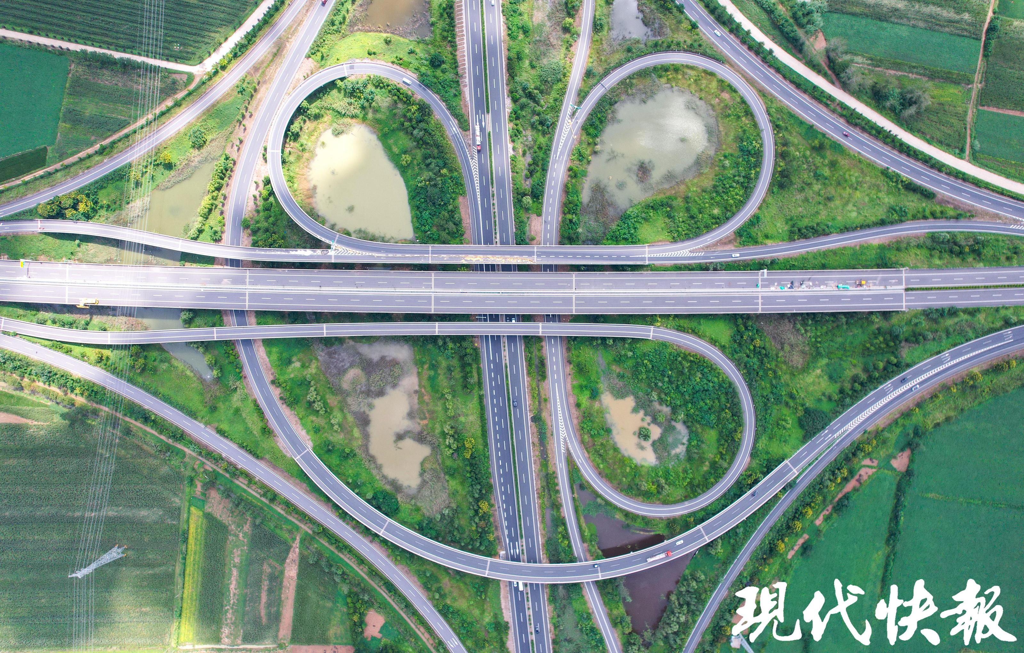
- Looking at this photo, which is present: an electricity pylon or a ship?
electricity pylon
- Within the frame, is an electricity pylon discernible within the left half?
Yes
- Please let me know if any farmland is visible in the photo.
Yes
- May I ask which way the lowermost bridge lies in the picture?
horizontally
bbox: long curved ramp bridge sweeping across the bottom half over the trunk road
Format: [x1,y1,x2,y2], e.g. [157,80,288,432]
[295,446,798,584]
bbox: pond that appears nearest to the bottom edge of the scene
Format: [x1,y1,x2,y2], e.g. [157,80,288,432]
[574,483,697,636]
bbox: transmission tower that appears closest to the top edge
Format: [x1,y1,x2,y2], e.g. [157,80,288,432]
[66,545,124,577]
